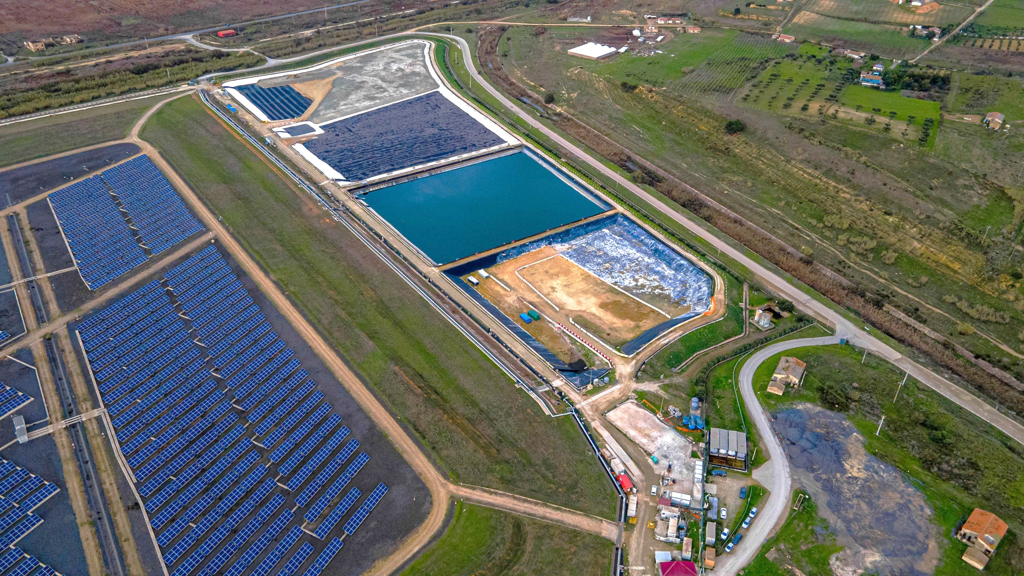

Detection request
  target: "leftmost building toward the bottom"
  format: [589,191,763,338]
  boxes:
[12,413,29,440]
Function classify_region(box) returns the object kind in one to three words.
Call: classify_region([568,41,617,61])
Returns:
greenhouse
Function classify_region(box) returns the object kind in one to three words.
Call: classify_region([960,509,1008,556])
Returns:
house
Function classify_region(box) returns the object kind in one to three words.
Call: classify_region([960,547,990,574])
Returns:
shed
